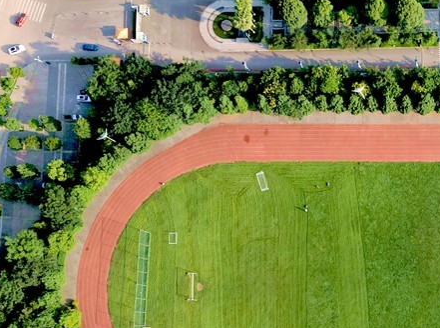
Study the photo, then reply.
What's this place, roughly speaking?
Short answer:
sports ground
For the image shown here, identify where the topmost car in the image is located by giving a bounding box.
[12,11,25,27]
